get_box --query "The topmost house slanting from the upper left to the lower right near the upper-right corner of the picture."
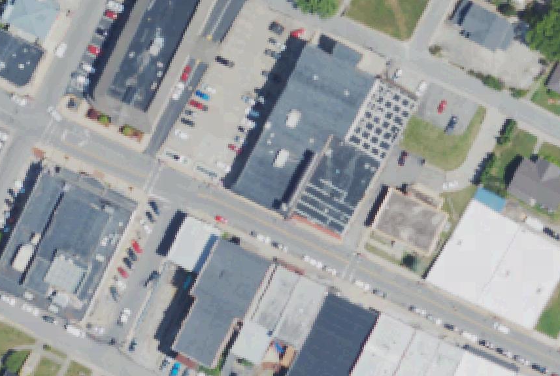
[450,0,527,53]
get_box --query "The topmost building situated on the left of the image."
[1,0,60,43]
